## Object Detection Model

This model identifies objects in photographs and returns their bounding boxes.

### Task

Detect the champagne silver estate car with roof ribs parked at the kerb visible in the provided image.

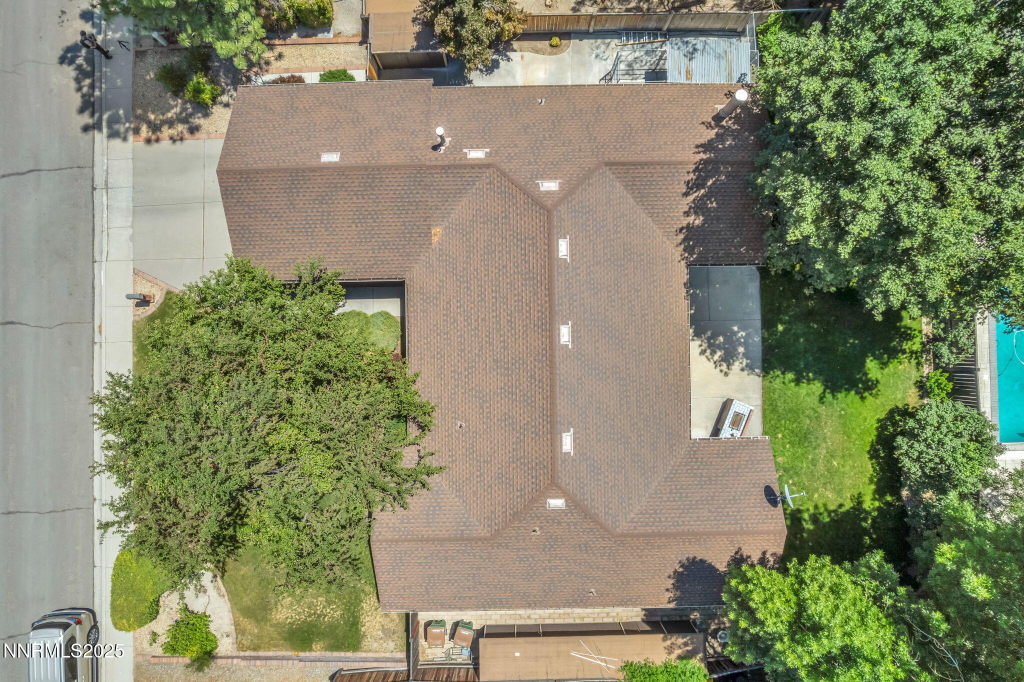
[26,604,101,682]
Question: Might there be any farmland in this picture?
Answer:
No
